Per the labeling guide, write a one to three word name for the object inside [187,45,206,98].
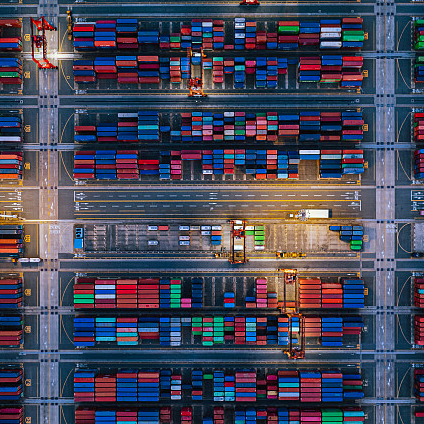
container crane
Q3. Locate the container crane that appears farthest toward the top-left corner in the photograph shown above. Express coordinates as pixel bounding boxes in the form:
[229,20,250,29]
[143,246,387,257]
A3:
[29,14,55,68]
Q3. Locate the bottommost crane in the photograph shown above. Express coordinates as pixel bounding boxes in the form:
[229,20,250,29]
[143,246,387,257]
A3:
[284,308,306,360]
